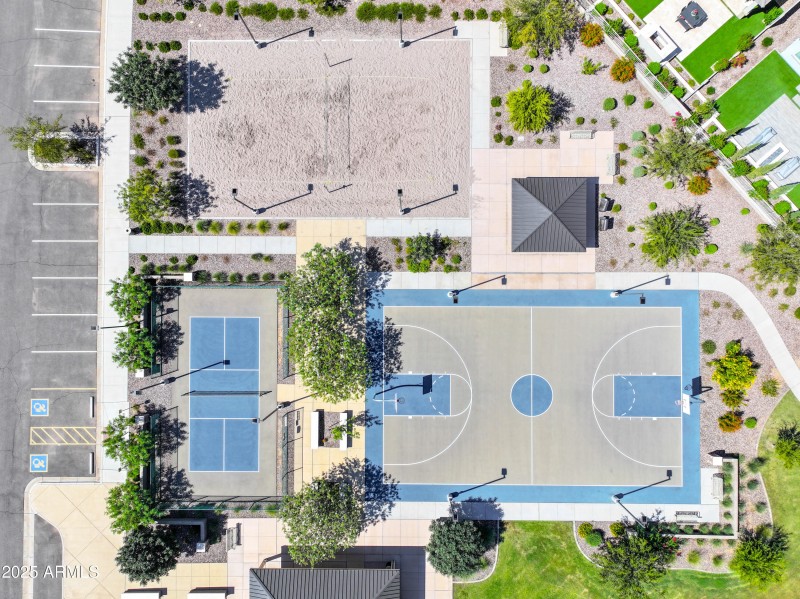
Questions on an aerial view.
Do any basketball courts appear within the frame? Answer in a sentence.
Yes, this view includes a basketball court.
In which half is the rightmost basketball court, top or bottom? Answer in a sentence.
The rightmost basketball court sits in the bottom half of the picture.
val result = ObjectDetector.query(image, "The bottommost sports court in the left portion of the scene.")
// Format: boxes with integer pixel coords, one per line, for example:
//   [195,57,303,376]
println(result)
[172,288,277,497]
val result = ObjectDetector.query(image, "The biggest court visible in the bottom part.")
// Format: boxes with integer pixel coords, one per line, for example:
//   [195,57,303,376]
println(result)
[366,290,700,503]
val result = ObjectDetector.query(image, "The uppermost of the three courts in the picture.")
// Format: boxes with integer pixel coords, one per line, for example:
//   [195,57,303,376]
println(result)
[188,39,472,219]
